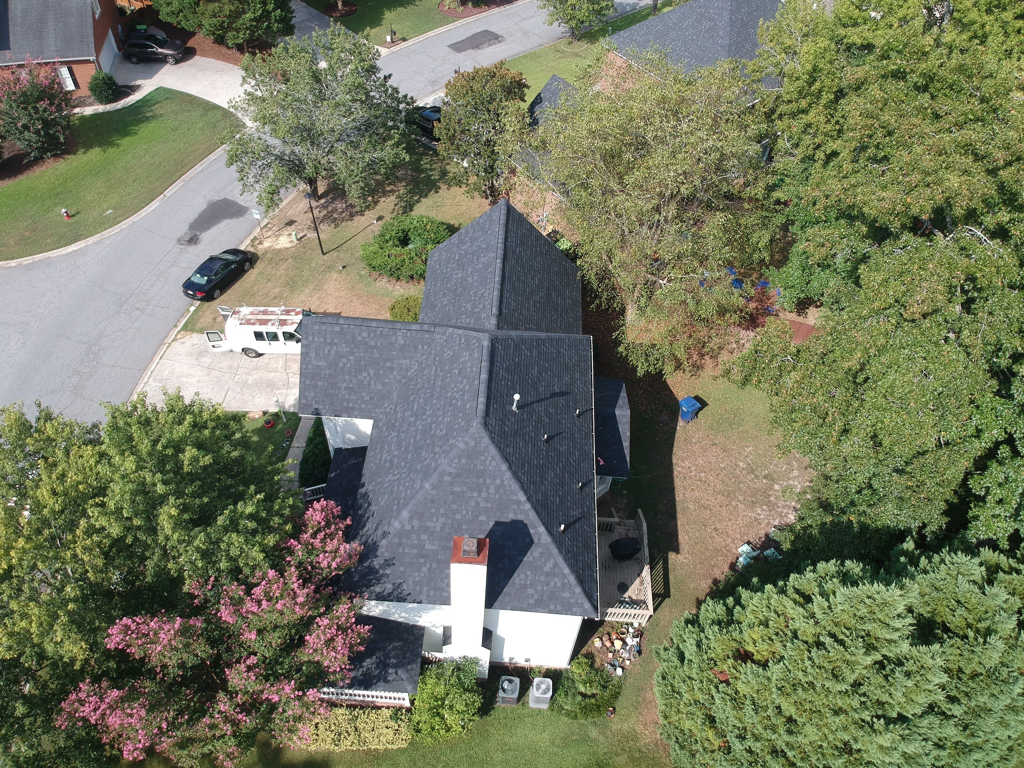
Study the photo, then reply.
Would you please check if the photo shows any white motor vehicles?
Yes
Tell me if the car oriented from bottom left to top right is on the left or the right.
left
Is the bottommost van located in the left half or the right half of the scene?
left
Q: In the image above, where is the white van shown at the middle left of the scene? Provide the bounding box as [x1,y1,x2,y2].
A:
[205,303,306,358]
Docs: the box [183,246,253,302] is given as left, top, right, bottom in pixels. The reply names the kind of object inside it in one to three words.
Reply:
car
